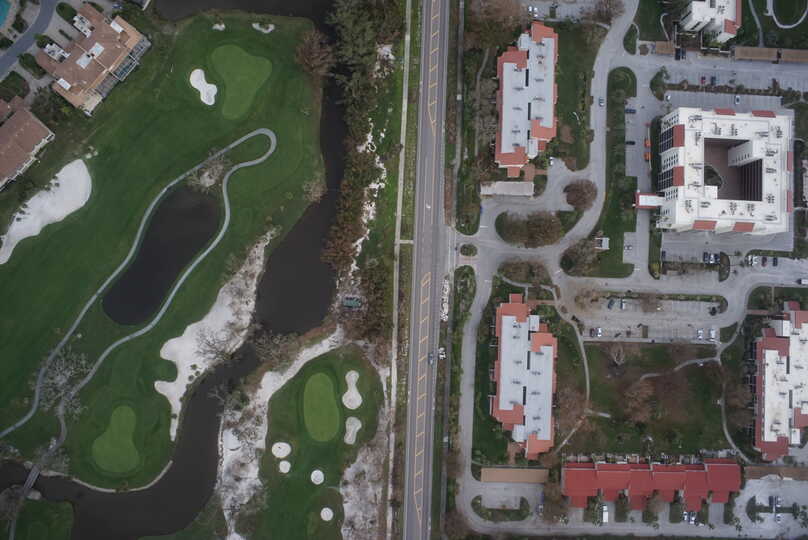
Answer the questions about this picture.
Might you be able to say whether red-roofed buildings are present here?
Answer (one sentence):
Yes, you can see a red-roofed building in this photo.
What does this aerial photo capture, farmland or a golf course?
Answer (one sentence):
This image shows a golf course.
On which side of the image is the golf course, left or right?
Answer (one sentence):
The golf course sits on the left side.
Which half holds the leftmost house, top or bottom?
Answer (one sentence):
Seen from above, the leftmost house lies in the top half of the view.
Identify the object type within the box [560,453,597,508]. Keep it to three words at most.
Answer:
house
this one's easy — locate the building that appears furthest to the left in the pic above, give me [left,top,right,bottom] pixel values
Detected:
[0,96,58,189]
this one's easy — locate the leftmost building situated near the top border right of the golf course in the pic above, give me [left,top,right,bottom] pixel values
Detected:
[488,21,559,179]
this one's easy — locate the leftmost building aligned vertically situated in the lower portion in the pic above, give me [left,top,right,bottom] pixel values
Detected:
[487,294,558,457]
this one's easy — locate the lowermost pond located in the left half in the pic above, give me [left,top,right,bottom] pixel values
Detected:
[103,188,222,326]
